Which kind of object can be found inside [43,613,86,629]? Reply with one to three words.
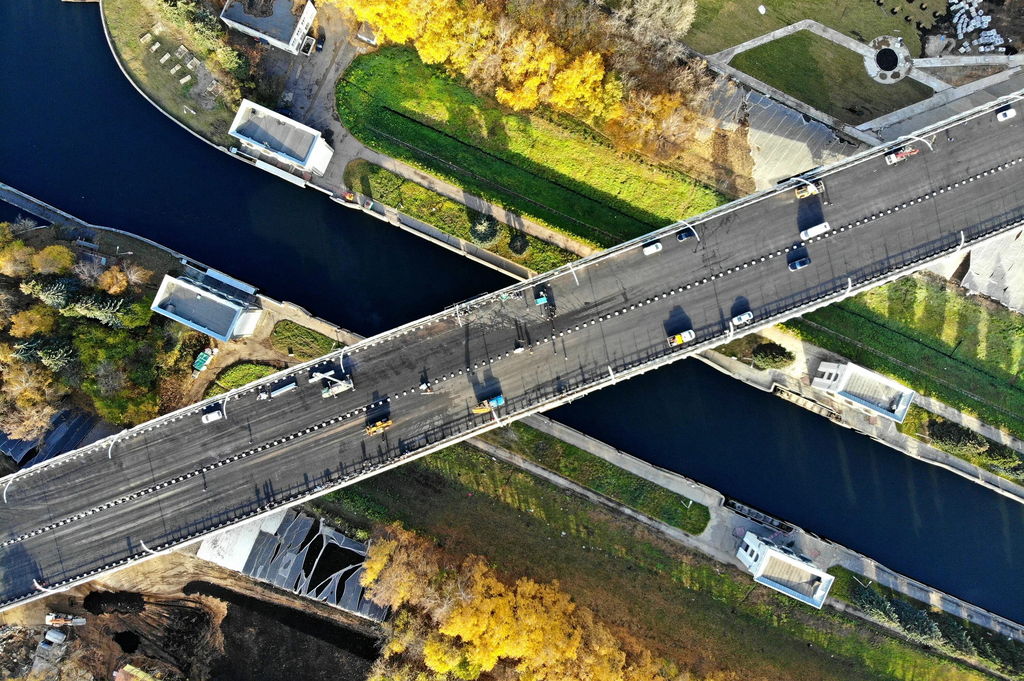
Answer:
vehicle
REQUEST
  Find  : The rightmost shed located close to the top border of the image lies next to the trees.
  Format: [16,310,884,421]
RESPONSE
[357,21,382,49]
